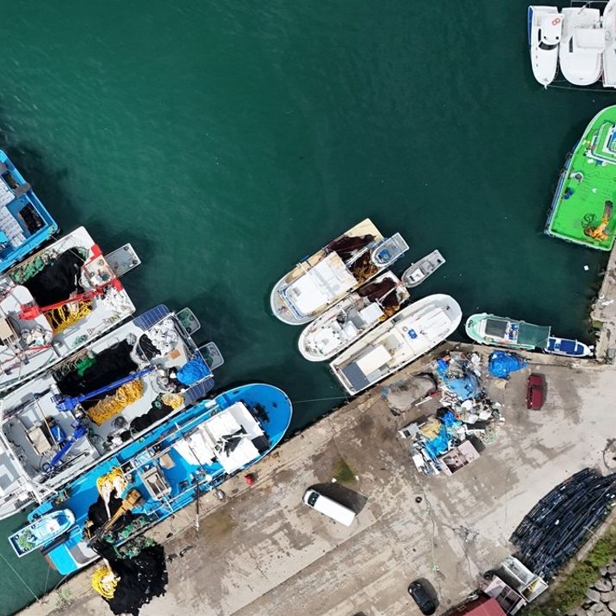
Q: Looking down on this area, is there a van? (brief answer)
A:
Yes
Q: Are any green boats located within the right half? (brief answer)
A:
Yes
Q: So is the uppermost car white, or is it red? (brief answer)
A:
red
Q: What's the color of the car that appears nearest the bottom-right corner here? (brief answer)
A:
black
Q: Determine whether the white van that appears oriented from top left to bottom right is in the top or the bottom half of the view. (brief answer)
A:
bottom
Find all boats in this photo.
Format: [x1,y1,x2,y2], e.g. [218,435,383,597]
[104,245,140,275]
[556,1,611,87]
[29,390,293,575]
[538,104,616,252]
[299,273,409,362]
[542,337,591,356]
[0,153,56,268]
[462,314,550,349]
[597,1,616,88]
[271,219,394,319]
[330,300,462,395]
[11,511,77,555]
[371,235,408,265]
[0,305,222,519]
[402,250,445,285]
[0,230,134,393]
[524,6,563,91]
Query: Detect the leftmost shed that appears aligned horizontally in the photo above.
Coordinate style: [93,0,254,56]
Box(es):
[447,589,506,616]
